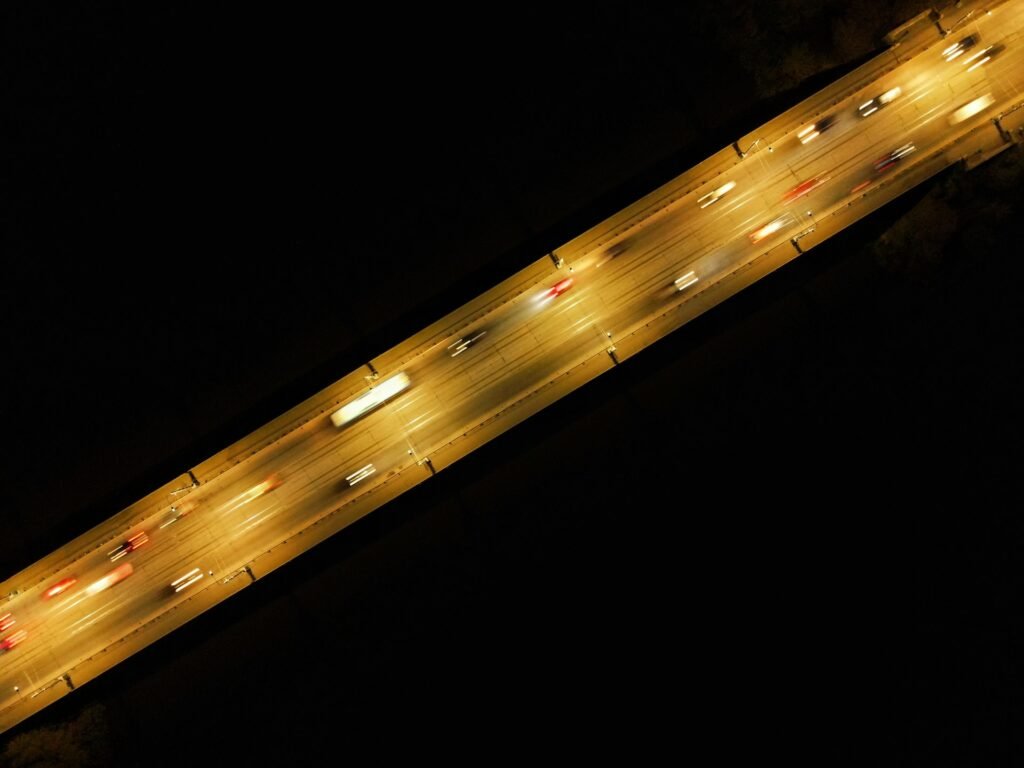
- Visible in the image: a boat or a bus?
bus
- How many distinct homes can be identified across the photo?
0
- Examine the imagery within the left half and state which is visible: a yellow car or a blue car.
yellow car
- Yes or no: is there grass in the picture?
No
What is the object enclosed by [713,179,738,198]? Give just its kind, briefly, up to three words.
car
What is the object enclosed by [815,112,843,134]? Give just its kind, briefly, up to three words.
car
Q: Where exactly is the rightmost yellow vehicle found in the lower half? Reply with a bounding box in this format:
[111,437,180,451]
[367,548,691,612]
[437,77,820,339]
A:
[249,479,273,498]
